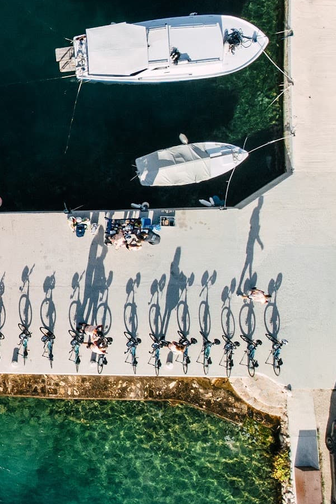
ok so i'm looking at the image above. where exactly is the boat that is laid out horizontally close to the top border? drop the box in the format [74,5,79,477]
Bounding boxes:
[54,14,271,83]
